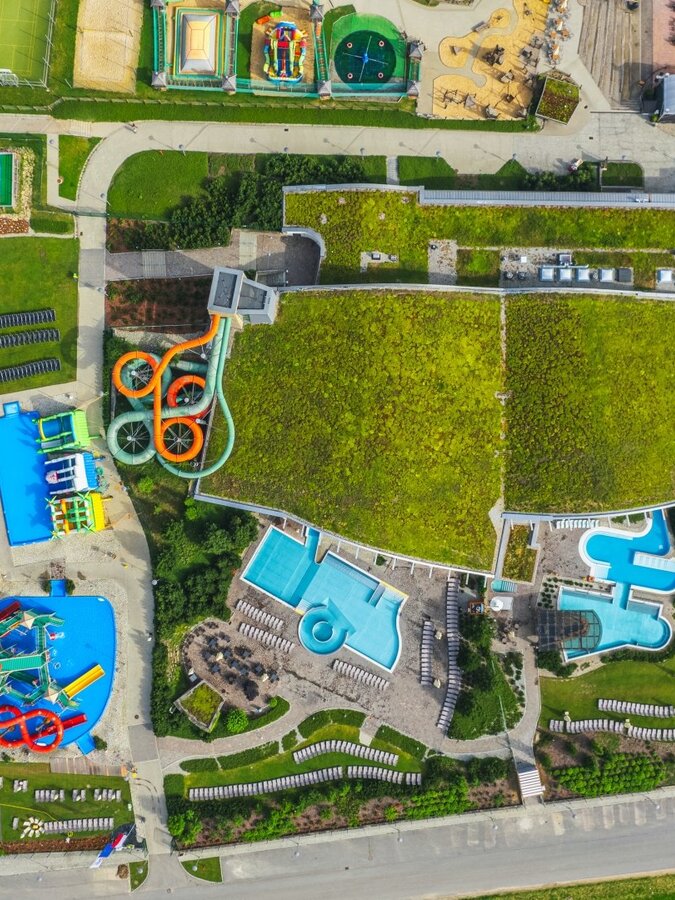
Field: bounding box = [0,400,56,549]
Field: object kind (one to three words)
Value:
swimming pool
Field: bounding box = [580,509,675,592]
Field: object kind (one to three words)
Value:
swimming pool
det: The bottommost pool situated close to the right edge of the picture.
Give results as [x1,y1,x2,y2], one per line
[556,582,673,662]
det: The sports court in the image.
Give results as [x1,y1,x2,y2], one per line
[73,0,142,93]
